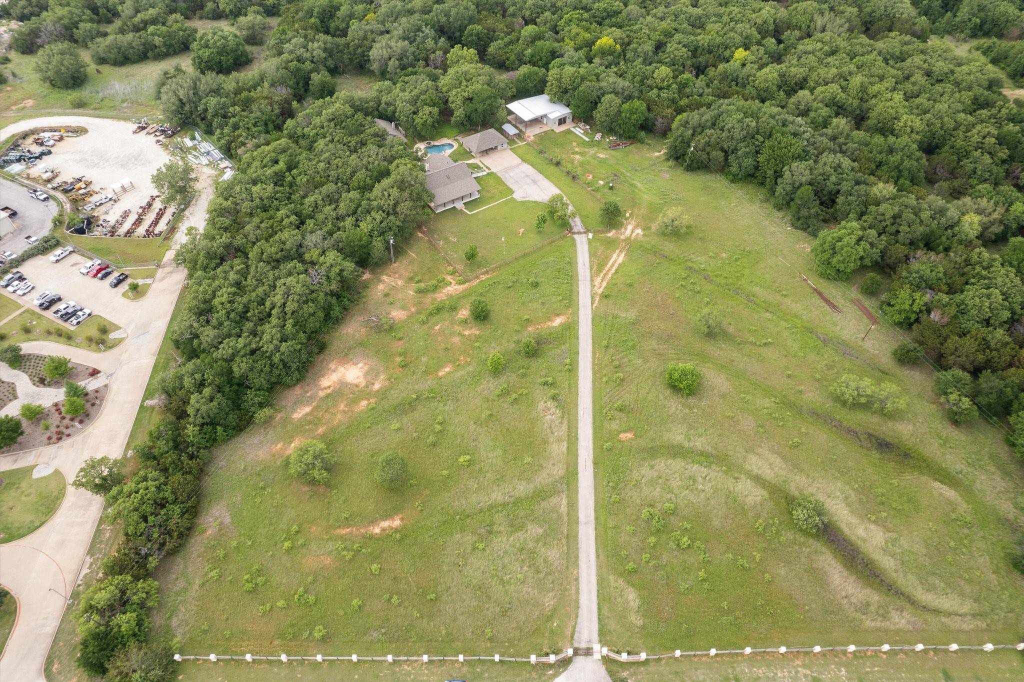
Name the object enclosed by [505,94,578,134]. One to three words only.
barn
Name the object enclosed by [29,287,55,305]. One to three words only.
car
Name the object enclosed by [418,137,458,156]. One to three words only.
swimming pool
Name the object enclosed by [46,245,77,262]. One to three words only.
vehicle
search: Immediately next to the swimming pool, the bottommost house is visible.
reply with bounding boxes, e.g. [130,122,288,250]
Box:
[413,150,481,212]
